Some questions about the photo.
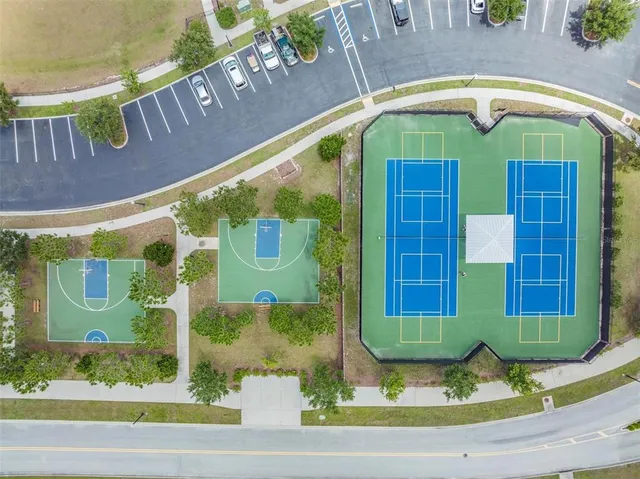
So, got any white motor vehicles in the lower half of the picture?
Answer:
No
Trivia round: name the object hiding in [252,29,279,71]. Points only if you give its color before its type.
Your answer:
white truck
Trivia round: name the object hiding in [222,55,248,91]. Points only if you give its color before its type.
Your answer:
white car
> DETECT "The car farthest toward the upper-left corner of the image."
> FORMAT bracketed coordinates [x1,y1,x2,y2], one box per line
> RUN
[190,74,213,106]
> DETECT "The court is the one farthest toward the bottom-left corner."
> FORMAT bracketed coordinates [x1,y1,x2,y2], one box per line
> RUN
[47,260,146,342]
